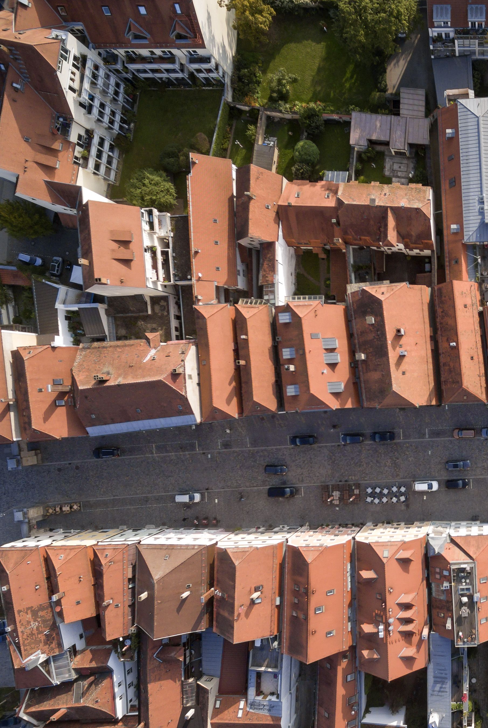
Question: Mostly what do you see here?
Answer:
buildings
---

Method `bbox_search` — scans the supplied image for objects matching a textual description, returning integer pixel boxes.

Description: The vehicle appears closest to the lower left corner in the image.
[0,714,24,728]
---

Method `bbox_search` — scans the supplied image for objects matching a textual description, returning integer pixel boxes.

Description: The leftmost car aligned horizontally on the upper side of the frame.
[17,252,45,268]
